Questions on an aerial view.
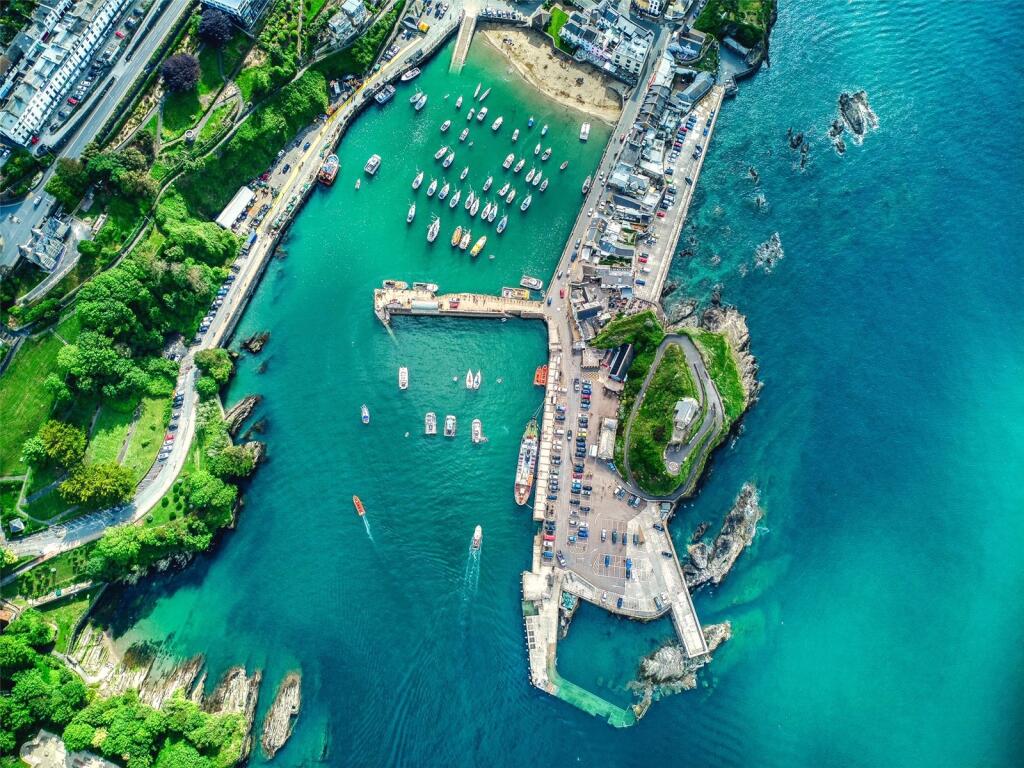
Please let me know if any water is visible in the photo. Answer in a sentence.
Yes, water can be seen from above here.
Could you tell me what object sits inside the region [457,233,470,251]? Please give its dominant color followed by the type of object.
white boat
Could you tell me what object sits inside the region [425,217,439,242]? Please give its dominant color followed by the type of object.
white boat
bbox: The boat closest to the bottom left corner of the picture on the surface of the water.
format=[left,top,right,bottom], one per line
[353,496,366,517]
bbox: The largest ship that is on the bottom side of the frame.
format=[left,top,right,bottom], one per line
[515,418,538,506]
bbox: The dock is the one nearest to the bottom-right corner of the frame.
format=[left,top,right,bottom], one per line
[670,595,711,657]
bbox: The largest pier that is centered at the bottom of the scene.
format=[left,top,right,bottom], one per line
[522,566,634,727]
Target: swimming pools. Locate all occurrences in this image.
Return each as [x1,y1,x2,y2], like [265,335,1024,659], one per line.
[560,591,576,611]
